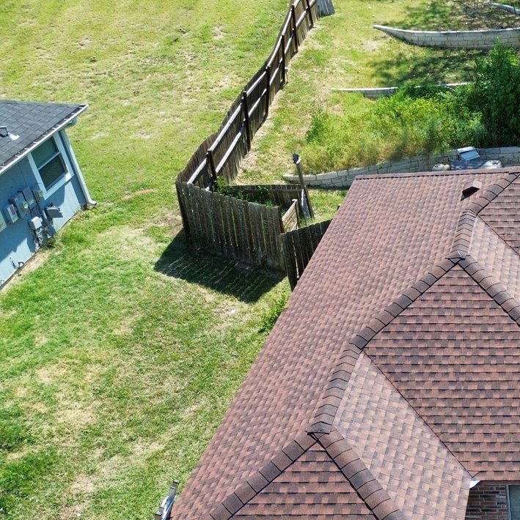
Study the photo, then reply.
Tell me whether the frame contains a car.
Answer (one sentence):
No, this view has no car in it.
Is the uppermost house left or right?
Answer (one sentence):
The uppermost house sits on the left side.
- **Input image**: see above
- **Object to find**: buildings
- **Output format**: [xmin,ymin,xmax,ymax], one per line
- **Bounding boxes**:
[0,103,99,287]
[165,172,520,520]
